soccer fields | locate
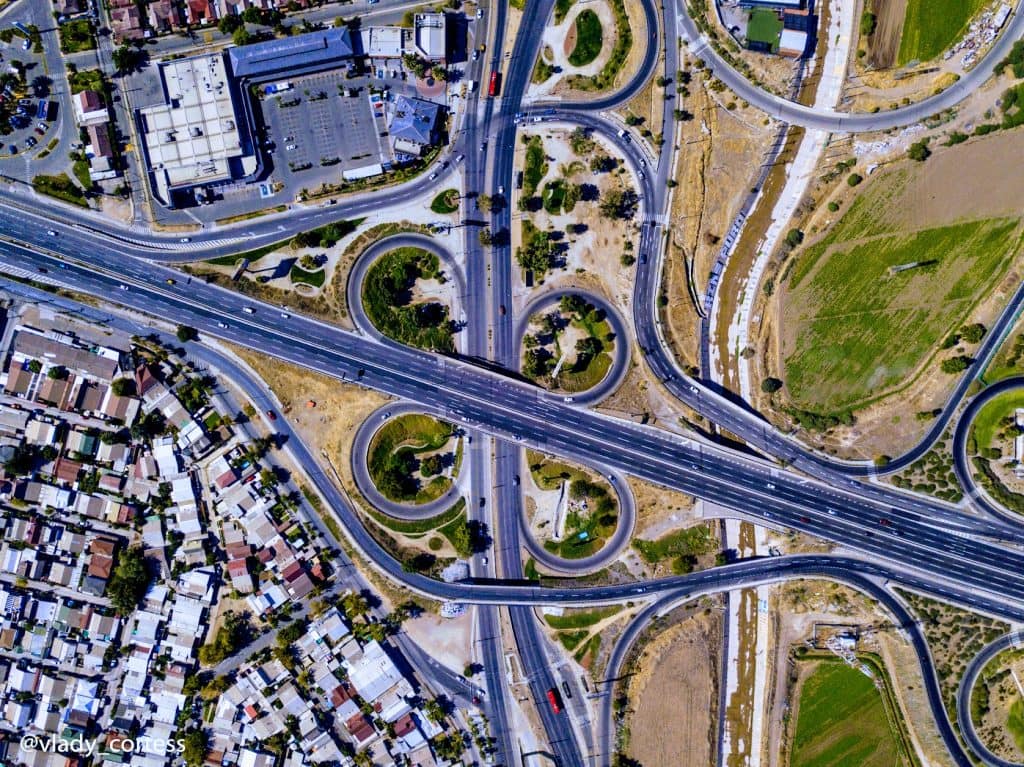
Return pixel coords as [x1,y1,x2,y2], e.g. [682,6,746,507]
[746,9,782,52]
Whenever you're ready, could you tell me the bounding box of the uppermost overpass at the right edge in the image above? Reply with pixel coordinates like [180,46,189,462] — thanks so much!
[674,0,1024,137]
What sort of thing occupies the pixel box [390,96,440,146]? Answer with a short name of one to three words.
building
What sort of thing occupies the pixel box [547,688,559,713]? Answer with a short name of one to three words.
vehicle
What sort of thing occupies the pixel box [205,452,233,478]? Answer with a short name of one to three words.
house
